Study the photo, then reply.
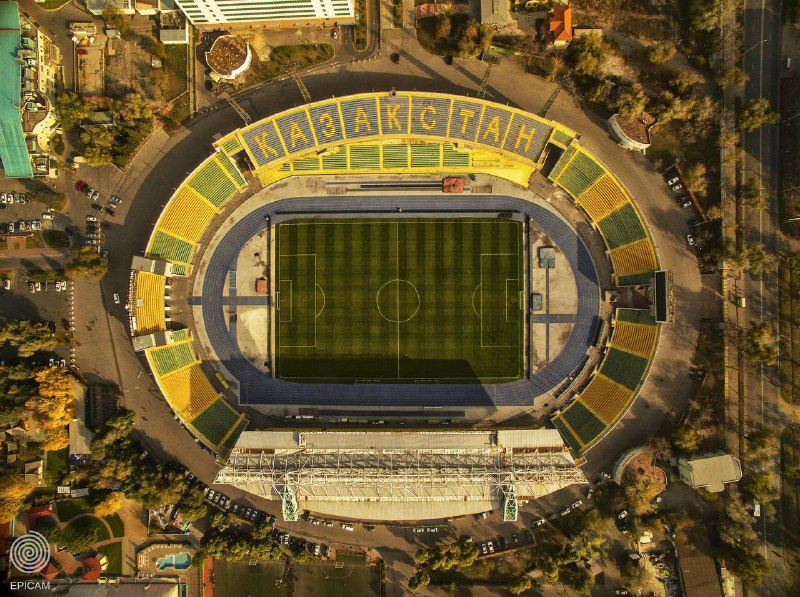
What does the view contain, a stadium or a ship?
stadium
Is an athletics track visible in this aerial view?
Yes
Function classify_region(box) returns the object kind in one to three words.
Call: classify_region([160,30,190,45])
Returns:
building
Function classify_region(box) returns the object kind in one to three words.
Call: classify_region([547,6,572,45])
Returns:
house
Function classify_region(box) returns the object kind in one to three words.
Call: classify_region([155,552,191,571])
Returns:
swimming pool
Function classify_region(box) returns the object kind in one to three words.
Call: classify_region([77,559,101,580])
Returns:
tent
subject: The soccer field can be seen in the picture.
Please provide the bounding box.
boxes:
[275,217,524,383]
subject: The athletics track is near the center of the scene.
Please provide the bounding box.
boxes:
[202,196,597,405]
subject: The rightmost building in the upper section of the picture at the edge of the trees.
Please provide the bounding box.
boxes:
[610,112,655,154]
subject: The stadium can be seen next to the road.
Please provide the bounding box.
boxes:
[123,87,665,522]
